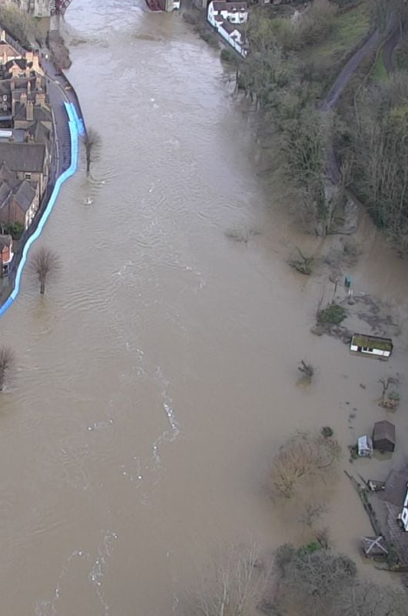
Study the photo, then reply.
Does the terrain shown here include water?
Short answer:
Yes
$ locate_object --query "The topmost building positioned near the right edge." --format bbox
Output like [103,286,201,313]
[349,328,395,361]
